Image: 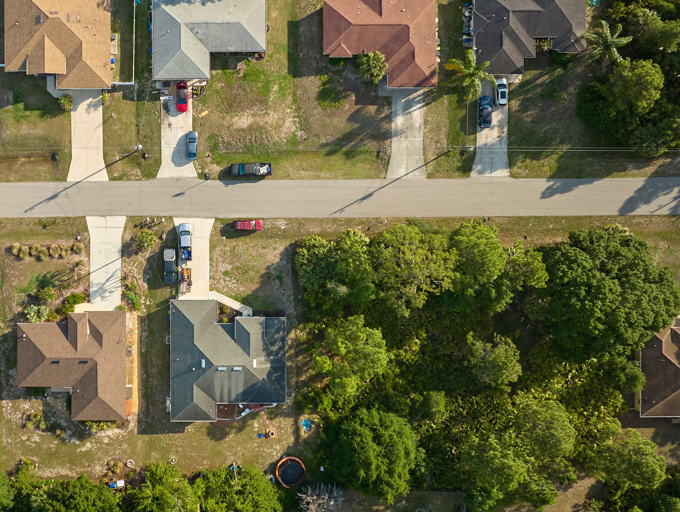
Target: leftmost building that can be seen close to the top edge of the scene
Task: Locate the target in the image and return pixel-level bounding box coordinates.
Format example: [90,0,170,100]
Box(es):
[4,0,111,89]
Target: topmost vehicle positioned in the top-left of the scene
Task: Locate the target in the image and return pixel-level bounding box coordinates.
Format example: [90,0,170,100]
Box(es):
[176,82,189,112]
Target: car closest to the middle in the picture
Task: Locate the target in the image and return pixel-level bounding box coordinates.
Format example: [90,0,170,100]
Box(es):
[233,219,262,233]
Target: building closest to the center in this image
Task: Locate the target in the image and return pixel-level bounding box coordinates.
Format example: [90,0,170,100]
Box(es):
[170,300,287,421]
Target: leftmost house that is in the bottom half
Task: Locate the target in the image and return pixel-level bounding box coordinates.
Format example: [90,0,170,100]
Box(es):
[17,310,127,421]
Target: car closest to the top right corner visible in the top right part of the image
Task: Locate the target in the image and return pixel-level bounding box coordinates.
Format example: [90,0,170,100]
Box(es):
[494,79,510,107]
